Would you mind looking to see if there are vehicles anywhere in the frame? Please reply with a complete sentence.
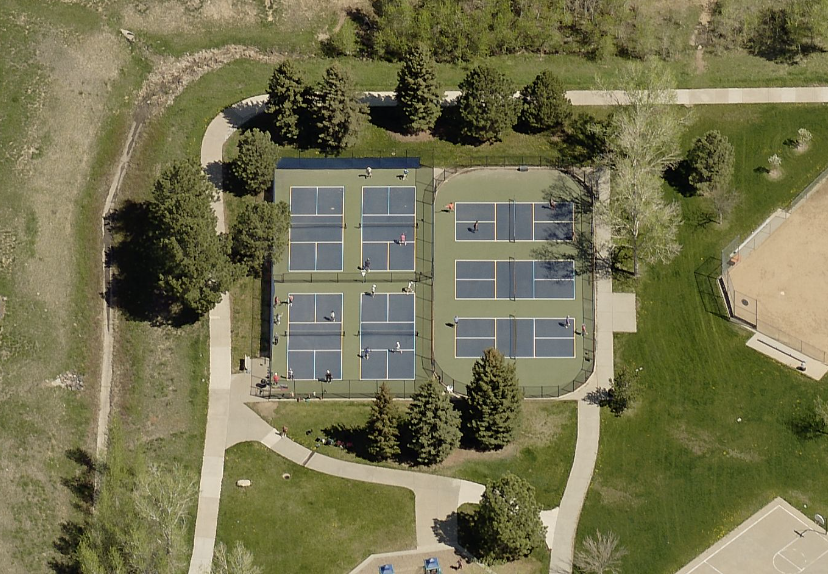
No, no vehicle can be seen from above.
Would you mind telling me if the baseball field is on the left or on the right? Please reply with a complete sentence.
You can find the baseball field on the right side of the picture.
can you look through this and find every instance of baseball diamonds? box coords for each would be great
[729,181,828,365]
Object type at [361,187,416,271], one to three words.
sports court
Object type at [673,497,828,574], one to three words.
basketball court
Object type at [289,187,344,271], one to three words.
sports court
